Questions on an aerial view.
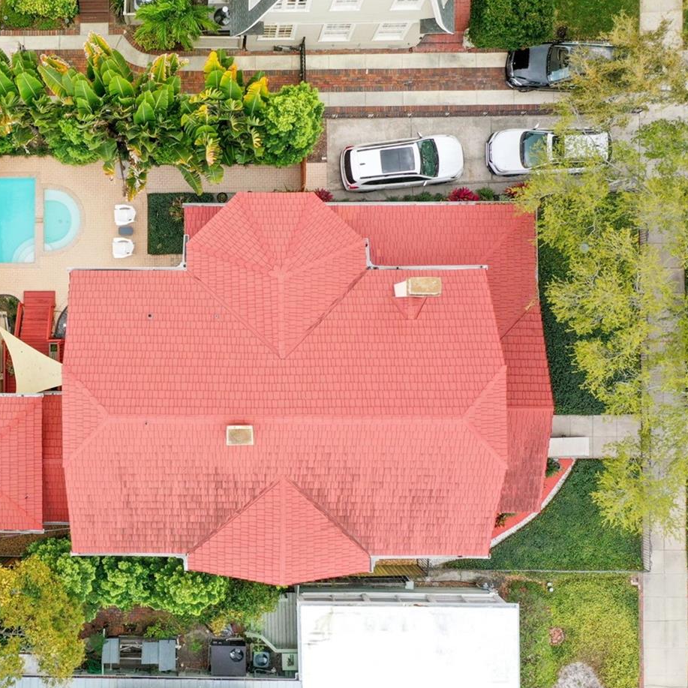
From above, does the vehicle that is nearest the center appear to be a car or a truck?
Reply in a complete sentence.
The vehicle that is nearest the center appears to be a car.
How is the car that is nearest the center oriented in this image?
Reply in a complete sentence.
The car that is nearest the center is laid out horizontally.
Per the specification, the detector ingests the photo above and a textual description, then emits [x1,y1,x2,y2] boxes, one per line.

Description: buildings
[39,190,588,585]
[233,0,458,49]
[0,585,525,688]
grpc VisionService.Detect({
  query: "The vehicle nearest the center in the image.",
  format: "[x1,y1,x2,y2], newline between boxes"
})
[340,128,464,193]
